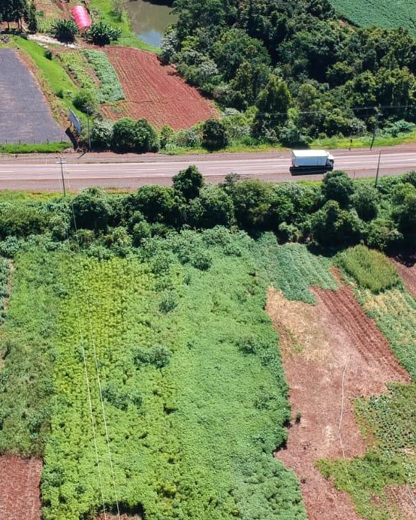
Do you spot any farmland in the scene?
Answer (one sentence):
Yes, the picture does contain farmland.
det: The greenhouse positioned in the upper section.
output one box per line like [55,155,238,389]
[71,3,93,31]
